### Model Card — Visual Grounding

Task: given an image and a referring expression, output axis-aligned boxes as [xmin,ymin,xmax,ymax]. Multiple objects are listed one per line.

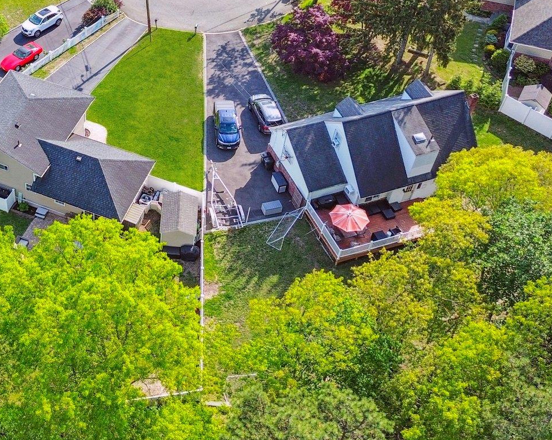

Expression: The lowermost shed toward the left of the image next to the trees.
[160,191,197,244]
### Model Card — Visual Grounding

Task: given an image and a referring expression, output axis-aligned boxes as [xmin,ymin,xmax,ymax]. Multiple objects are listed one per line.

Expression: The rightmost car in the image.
[253,92,286,135]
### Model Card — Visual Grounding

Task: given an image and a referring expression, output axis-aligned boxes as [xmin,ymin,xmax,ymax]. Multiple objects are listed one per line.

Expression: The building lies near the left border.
[0,70,159,242]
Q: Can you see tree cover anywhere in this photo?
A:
Yes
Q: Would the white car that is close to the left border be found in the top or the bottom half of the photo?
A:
top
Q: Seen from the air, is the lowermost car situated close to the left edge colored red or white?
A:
red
